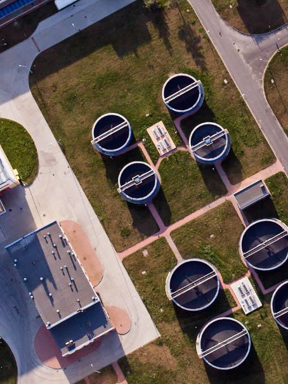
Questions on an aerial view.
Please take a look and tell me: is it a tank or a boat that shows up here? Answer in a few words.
tank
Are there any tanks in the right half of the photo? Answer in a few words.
Yes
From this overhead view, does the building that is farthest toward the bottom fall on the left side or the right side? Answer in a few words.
left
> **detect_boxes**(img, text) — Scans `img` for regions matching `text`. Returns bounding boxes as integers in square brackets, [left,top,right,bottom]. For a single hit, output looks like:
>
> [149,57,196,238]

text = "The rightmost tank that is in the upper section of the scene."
[189,122,231,164]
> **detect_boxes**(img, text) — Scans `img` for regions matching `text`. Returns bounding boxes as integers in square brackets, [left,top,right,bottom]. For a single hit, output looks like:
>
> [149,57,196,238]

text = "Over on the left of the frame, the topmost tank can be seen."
[90,113,133,155]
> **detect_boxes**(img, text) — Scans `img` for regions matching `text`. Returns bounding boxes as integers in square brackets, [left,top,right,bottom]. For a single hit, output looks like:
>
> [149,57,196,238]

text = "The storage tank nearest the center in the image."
[118,162,161,203]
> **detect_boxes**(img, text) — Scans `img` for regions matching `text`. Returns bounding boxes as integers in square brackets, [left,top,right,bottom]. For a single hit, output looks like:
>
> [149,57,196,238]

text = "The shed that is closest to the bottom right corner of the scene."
[234,180,270,209]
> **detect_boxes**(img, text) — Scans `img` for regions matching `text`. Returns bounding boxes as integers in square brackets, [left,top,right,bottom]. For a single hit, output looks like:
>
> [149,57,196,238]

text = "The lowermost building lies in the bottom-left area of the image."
[5,221,115,357]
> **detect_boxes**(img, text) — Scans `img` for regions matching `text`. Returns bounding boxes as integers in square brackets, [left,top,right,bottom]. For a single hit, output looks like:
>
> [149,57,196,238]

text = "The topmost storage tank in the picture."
[163,74,205,115]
